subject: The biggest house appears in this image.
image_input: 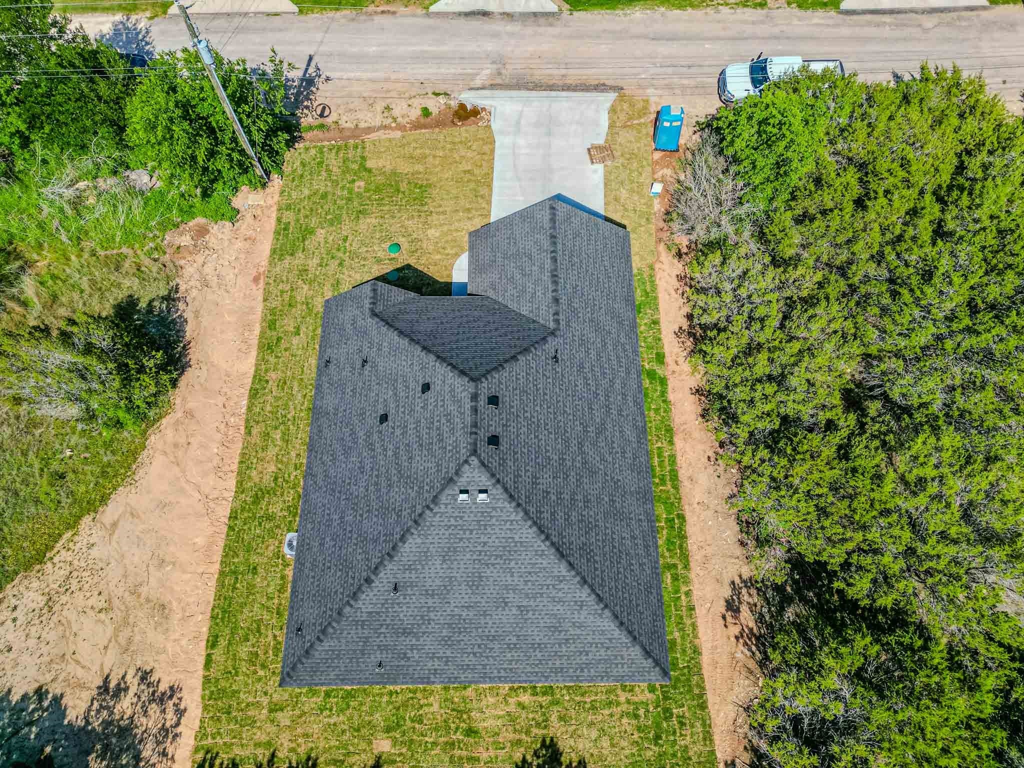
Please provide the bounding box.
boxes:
[280,196,669,687]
